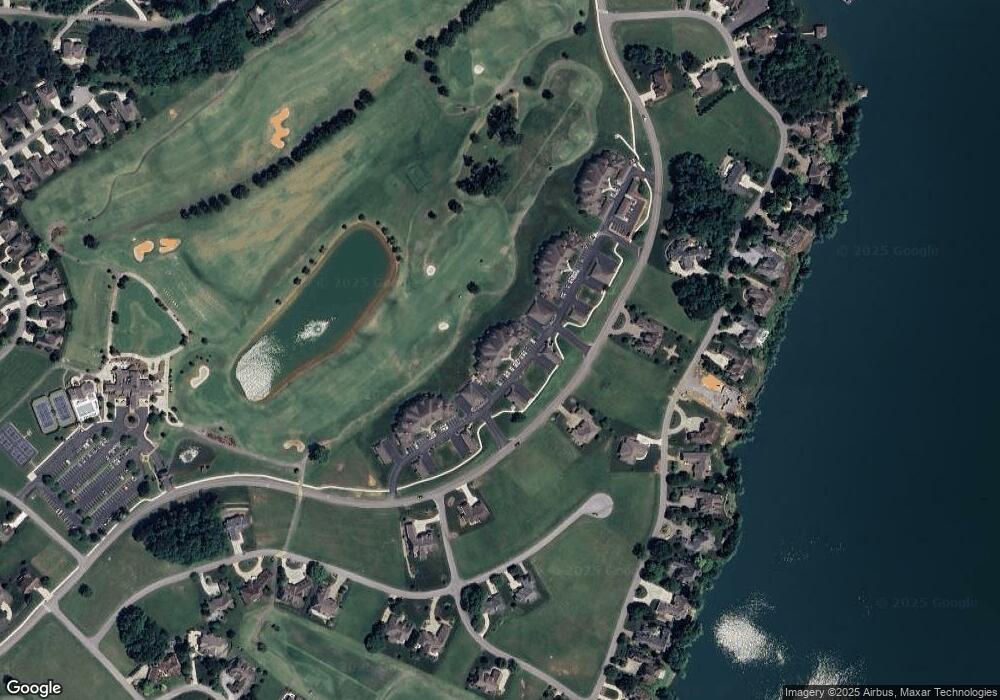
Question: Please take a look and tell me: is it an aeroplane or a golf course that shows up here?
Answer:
golf course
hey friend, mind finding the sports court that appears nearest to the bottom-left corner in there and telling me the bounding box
[0,422,38,467]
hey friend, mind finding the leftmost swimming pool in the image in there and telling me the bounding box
[76,400,96,416]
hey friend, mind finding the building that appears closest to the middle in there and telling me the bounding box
[475,317,533,386]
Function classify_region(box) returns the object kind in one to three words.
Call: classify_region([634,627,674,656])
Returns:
house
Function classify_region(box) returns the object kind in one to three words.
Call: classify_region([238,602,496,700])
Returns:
golf course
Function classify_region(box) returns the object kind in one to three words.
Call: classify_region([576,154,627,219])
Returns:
building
